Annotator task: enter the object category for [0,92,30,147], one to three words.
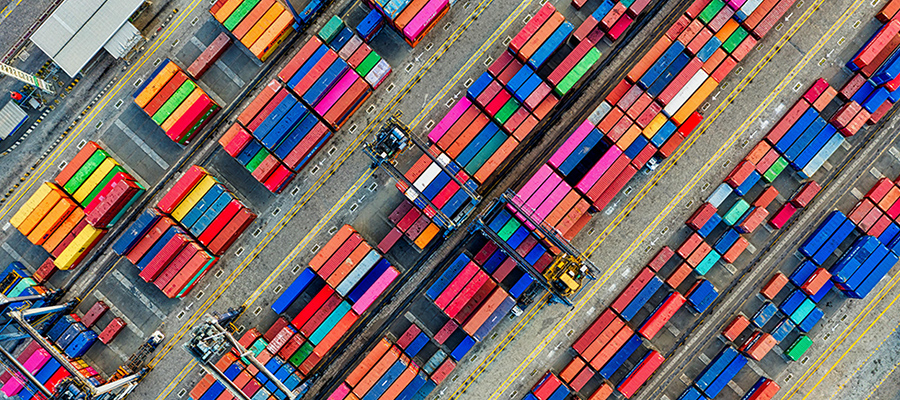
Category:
shed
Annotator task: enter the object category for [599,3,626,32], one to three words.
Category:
shipping container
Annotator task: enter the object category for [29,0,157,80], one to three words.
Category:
shed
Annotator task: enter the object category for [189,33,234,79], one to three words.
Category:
shipping container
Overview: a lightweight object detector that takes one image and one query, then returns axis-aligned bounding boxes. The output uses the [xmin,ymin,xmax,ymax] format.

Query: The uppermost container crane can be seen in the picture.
[279,0,335,42]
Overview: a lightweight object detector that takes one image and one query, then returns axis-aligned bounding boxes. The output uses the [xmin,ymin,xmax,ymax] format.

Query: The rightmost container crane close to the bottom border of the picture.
[178,297,328,400]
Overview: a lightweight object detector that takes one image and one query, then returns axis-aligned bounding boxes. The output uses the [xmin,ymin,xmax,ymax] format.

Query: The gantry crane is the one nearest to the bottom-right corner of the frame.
[463,185,598,307]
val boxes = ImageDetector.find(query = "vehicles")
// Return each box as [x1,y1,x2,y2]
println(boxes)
[120,330,168,379]
[642,149,663,172]
[510,264,557,317]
